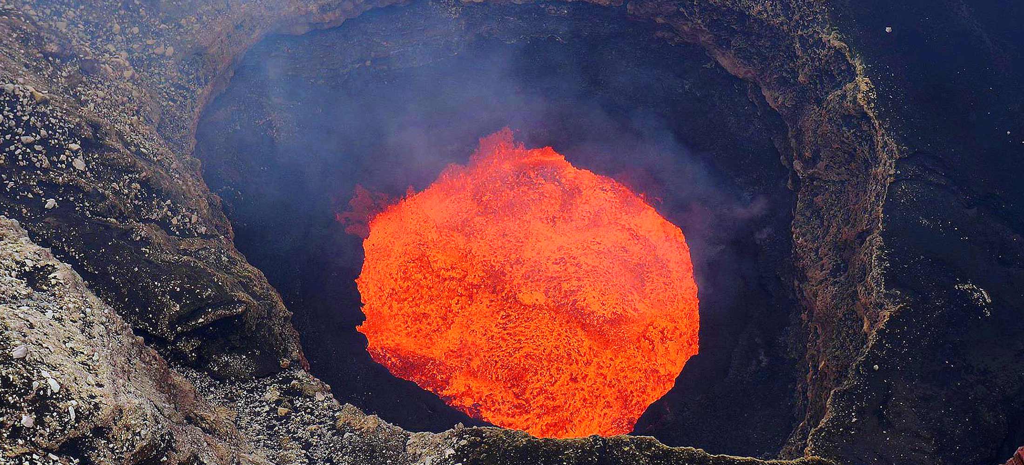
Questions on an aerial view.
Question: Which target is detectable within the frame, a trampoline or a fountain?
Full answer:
Looking from above, you can make out a fountain.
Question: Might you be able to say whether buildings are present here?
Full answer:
No, the scene contains no building.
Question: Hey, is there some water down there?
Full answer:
Yes, the picture does contain water.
